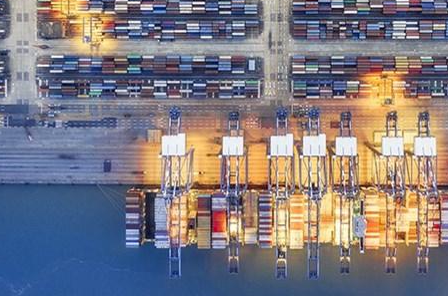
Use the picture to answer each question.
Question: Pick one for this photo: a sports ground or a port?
port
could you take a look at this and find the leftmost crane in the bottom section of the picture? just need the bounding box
[162,105,196,278]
